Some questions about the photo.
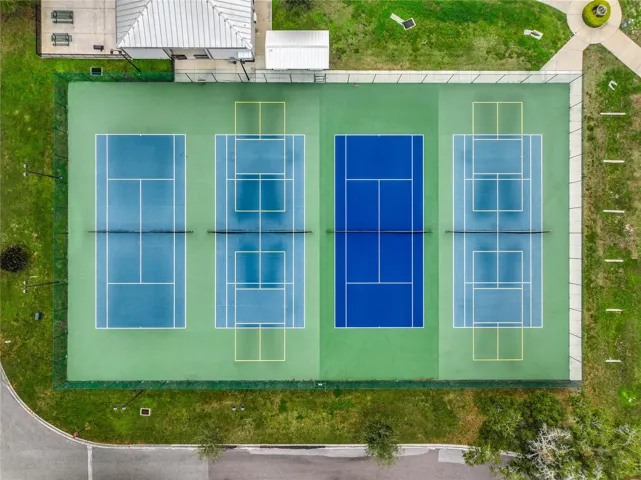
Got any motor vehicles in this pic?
No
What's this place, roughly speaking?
sports ground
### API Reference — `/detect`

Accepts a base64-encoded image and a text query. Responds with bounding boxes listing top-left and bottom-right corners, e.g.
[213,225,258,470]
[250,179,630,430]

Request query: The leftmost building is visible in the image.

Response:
[116,0,257,61]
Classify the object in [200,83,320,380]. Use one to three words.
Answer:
tennis court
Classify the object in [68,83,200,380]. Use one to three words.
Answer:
tennis court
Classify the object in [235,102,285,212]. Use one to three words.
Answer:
sports court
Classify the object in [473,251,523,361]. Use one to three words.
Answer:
sports court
